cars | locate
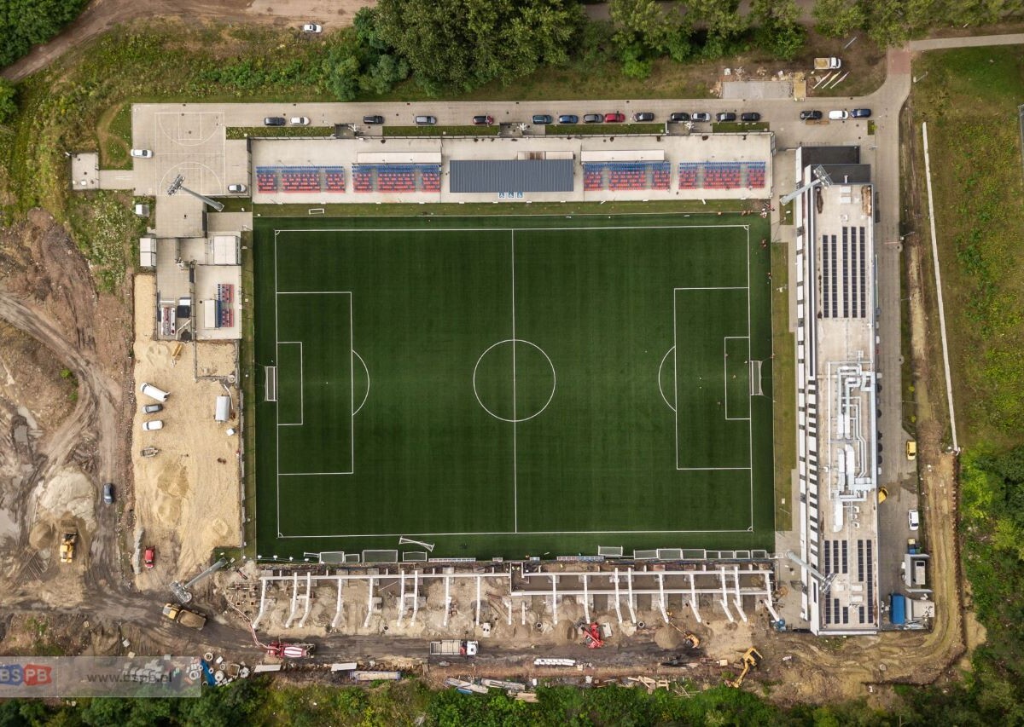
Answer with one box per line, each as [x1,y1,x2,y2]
[668,111,690,122]
[131,148,154,159]
[103,482,114,504]
[559,114,578,124]
[826,109,849,120]
[142,420,165,430]
[142,403,165,414]
[303,23,323,34]
[714,111,737,122]
[904,438,917,461]
[583,114,603,123]
[474,114,493,125]
[415,114,437,125]
[228,183,248,193]
[290,115,309,126]
[363,115,384,125]
[907,508,919,530]
[532,113,553,125]
[605,112,624,123]
[690,111,712,122]
[799,109,822,120]
[849,107,872,118]
[264,115,287,126]
[633,111,655,122]
[739,111,761,122]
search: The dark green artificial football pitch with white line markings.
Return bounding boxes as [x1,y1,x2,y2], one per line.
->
[255,211,775,561]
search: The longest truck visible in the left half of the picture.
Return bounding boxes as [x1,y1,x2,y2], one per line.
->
[228,601,314,659]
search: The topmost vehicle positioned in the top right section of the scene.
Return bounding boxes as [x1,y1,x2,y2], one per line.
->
[812,57,840,70]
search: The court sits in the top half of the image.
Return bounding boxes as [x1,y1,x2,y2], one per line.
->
[155,112,225,195]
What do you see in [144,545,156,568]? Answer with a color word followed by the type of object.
red vehicle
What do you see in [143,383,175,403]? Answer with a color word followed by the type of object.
white vehicle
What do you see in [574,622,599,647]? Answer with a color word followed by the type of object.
red work vehicle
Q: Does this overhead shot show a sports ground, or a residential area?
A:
sports ground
